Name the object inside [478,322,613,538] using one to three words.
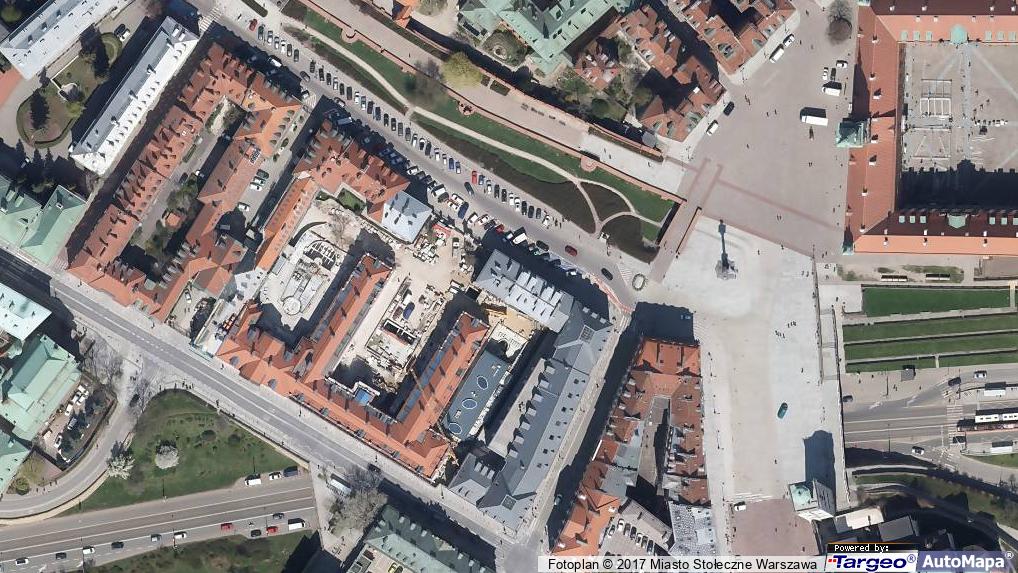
building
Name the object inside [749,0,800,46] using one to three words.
house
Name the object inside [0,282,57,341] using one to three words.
building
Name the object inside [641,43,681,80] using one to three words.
house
